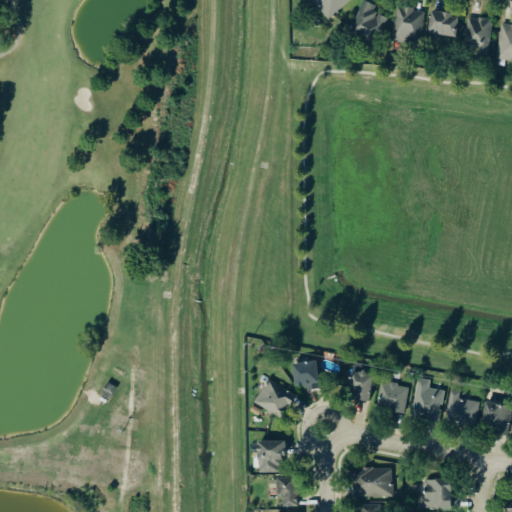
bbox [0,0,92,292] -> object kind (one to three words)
golf course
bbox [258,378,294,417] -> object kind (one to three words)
house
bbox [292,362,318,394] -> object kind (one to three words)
house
